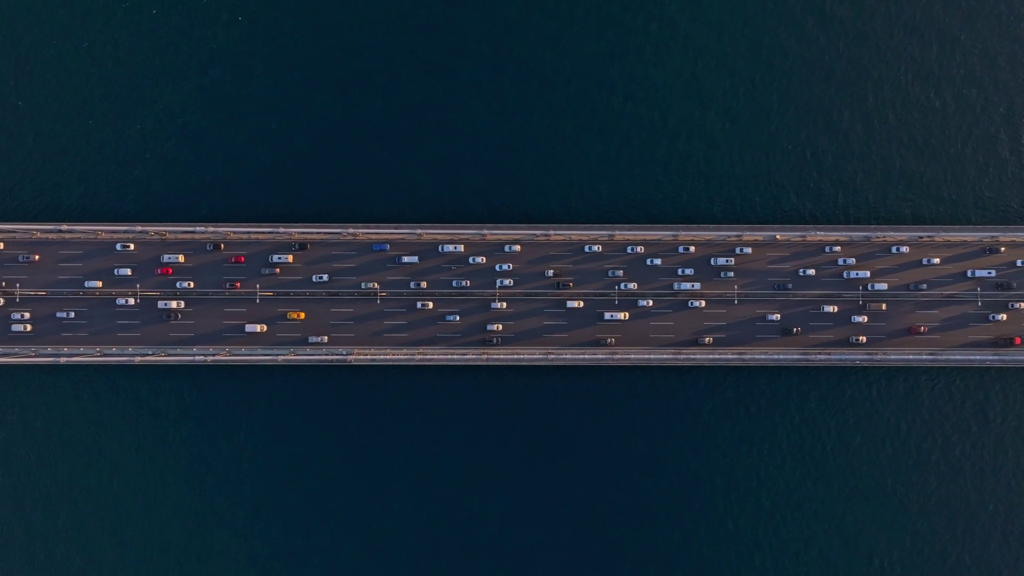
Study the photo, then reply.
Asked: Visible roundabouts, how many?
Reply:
0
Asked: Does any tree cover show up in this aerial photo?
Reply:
No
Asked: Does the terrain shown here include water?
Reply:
Yes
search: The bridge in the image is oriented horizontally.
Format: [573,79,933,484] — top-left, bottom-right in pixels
[0,222,1024,366]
